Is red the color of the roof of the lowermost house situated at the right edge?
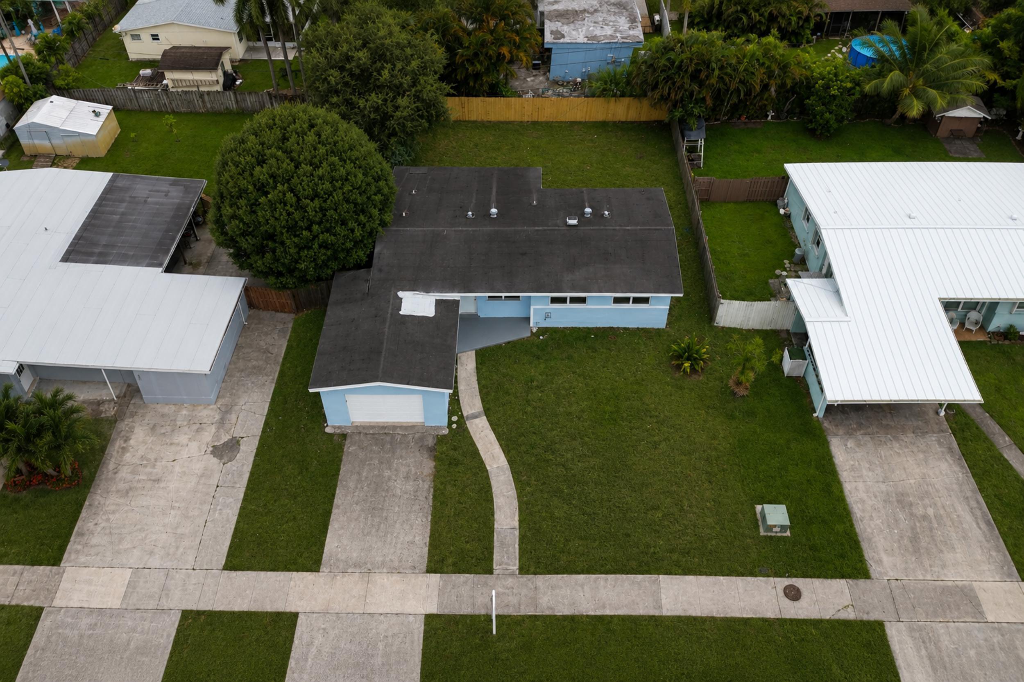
No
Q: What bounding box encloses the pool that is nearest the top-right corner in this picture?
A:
[846,32,908,73]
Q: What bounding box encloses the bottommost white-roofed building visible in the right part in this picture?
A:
[782,163,1024,418]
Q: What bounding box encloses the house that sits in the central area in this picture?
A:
[308,170,685,425]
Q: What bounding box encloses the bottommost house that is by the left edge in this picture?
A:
[0,167,251,404]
